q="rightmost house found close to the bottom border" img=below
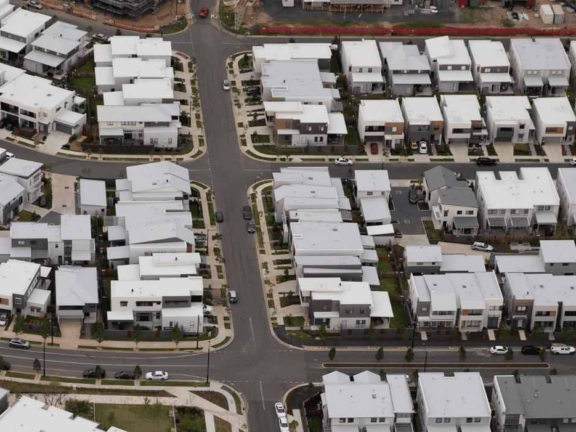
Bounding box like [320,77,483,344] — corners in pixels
[489,374,576,432]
